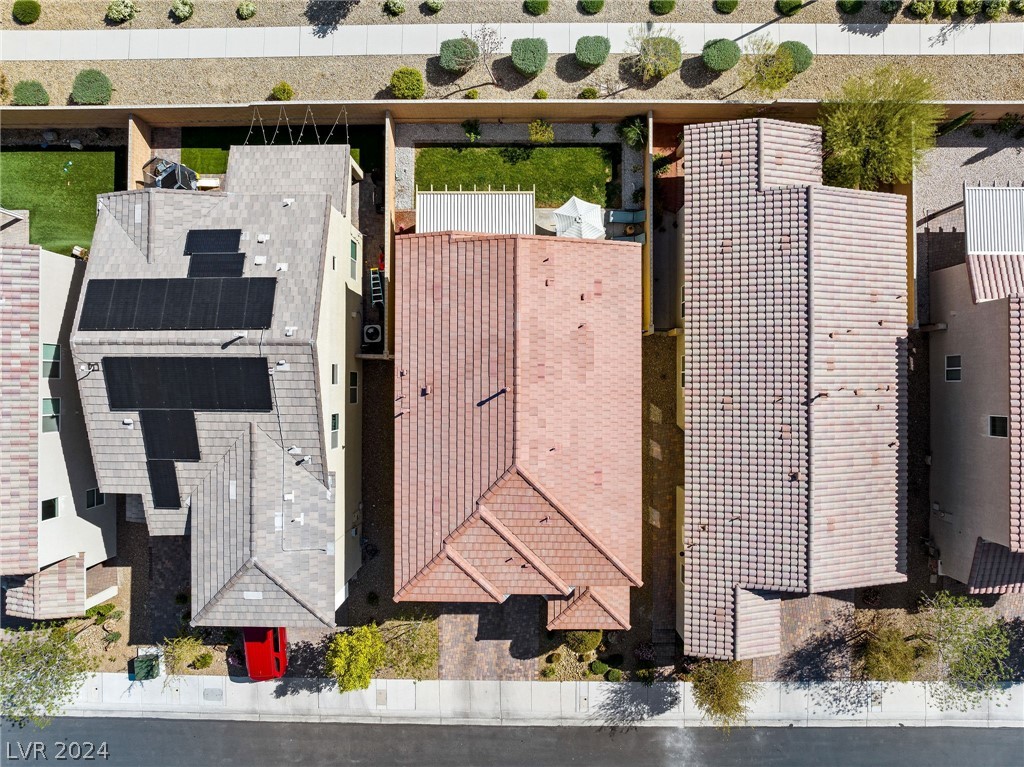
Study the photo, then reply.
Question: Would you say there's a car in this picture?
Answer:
Yes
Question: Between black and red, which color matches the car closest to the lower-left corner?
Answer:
red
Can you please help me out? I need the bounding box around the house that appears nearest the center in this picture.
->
[392,183,645,631]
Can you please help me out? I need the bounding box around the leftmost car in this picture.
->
[245,627,292,683]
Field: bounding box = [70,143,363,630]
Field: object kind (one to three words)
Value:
house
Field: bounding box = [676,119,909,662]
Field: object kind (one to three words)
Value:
house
